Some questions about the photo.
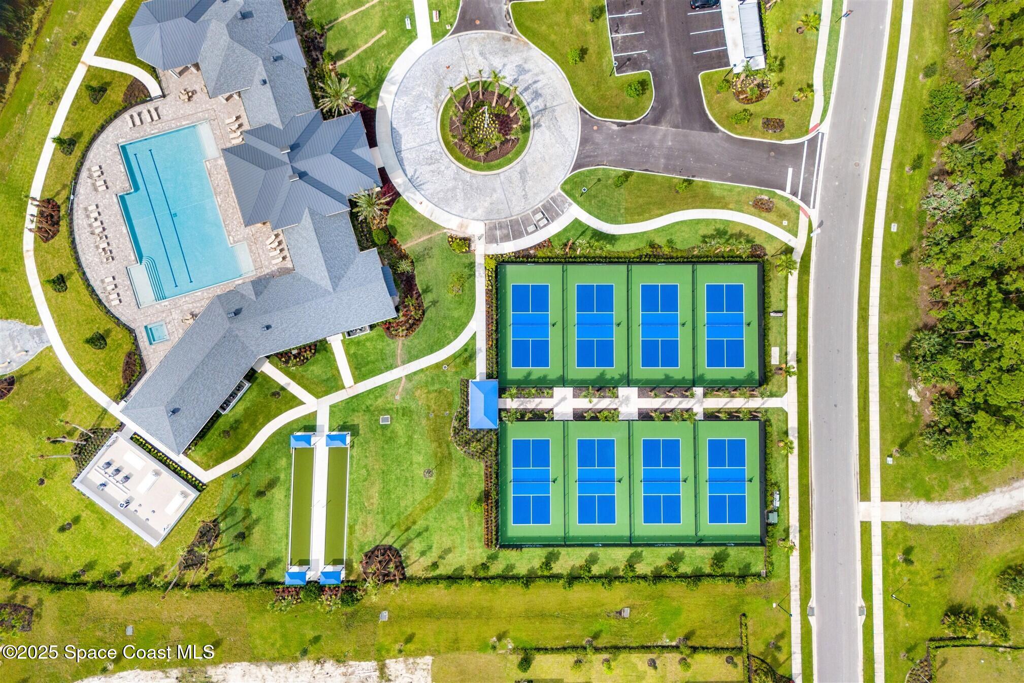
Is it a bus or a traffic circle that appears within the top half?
traffic circle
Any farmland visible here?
No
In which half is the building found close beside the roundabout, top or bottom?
top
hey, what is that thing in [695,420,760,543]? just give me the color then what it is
green sports court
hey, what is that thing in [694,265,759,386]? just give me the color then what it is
green sports court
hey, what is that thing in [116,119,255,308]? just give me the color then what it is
blue swimming pool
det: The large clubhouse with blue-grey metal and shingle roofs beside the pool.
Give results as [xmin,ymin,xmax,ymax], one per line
[119,0,400,455]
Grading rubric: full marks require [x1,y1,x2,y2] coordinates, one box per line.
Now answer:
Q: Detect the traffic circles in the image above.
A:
[394,36,577,217]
